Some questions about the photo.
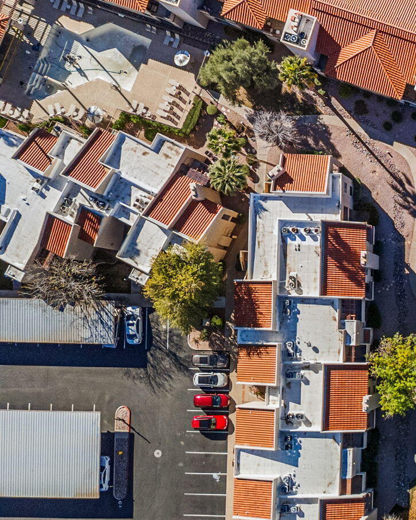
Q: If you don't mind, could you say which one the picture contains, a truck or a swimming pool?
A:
swimming pool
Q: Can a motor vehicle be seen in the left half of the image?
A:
Yes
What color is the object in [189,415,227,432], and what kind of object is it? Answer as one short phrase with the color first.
red car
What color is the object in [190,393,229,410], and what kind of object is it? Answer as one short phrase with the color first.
red car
